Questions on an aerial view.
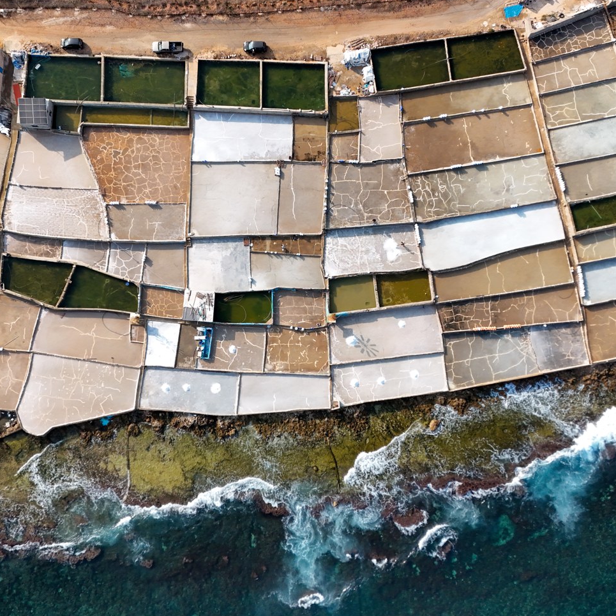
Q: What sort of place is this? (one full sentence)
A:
It's an industrial area.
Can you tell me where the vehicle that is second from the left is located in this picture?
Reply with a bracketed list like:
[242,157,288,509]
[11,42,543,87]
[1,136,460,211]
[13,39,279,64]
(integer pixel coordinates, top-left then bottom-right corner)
[149,37,185,54]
